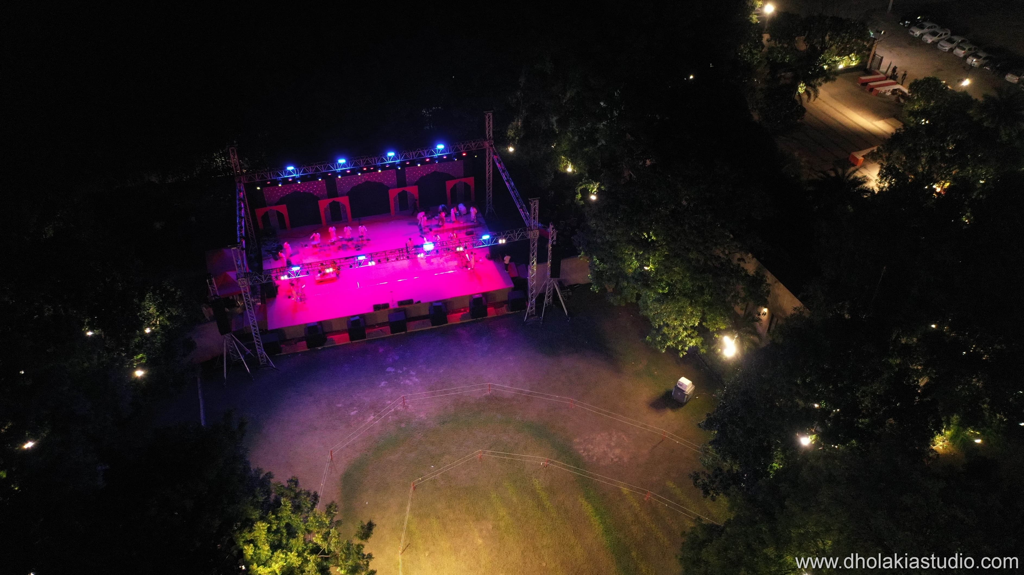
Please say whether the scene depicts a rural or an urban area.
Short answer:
rural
